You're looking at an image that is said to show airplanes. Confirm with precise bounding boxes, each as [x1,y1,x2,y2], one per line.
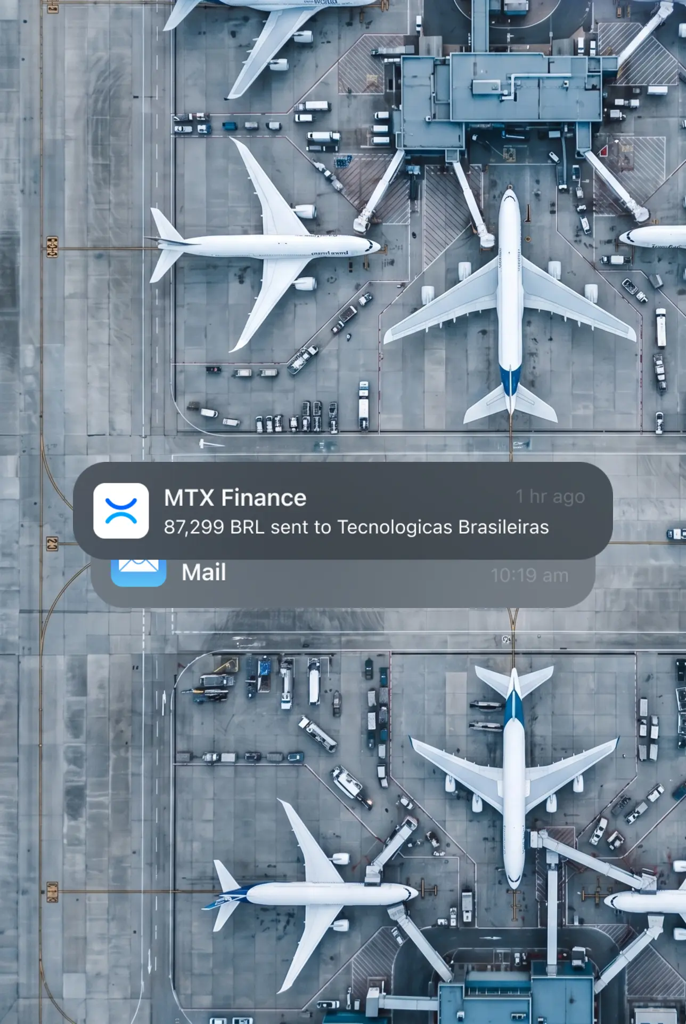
[619,226,686,248]
[147,139,380,353]
[384,191,637,422]
[407,667,624,889]
[604,862,686,941]
[162,0,384,101]
[203,797,418,992]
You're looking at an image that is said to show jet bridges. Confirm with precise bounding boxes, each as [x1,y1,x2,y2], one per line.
[388,902,451,979]
[581,149,650,224]
[542,850,562,969]
[525,827,657,892]
[366,982,439,1017]
[595,913,664,990]
[452,162,495,249]
[366,814,418,885]
[355,148,405,232]
[619,2,674,67]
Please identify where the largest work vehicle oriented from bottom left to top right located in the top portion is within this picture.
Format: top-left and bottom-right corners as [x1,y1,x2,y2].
[286,344,320,375]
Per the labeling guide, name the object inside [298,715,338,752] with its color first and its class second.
white truck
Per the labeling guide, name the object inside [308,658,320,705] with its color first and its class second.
white vehicle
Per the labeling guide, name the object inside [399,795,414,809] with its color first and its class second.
white car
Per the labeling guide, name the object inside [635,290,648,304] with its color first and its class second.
white vehicle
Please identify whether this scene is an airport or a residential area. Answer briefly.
airport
